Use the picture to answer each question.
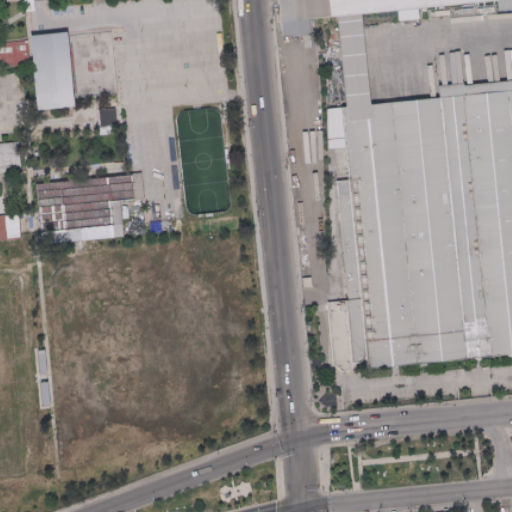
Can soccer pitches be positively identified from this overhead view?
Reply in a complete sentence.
Yes, a soccer pitch appears in the view.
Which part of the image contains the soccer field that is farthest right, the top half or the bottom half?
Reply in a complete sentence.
It is in the top half that the soccer field that is farthest right appears.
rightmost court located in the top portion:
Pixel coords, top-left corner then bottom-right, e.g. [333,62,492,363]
[70,30,116,98]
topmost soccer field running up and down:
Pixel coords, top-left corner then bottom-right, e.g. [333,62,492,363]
[176,104,230,216]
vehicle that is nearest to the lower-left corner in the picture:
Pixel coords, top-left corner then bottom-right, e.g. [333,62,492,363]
[192,464,214,476]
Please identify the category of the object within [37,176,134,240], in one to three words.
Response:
building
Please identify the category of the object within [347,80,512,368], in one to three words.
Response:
building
